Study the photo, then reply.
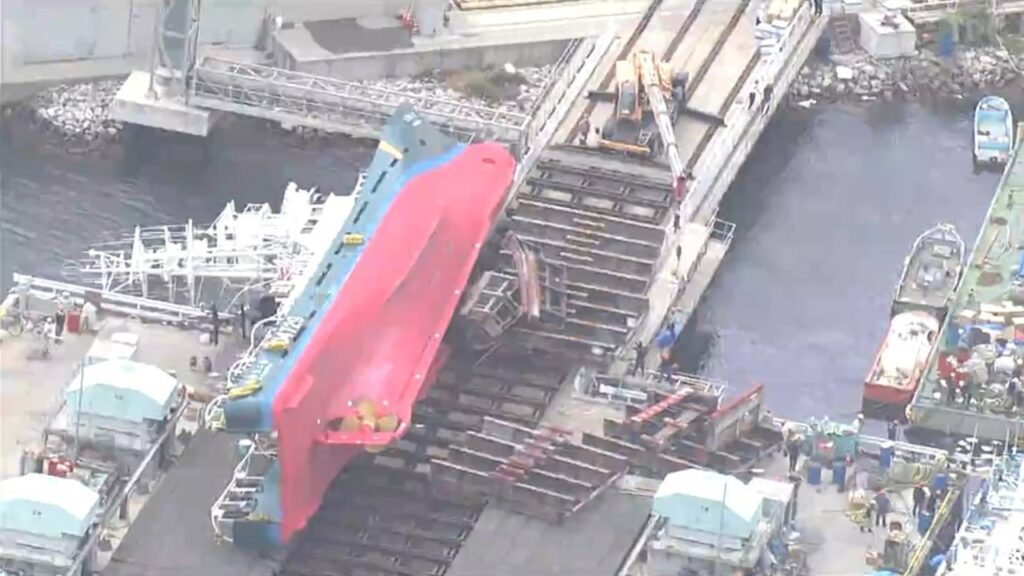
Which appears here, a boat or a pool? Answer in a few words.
boat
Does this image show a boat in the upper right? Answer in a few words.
Yes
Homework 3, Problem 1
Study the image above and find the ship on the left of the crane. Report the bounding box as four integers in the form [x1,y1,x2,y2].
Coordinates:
[47,99,525,538]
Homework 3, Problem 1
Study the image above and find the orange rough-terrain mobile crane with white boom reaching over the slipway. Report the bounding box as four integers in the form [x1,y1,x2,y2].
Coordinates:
[575,51,733,238]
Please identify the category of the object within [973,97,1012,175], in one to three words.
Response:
boat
